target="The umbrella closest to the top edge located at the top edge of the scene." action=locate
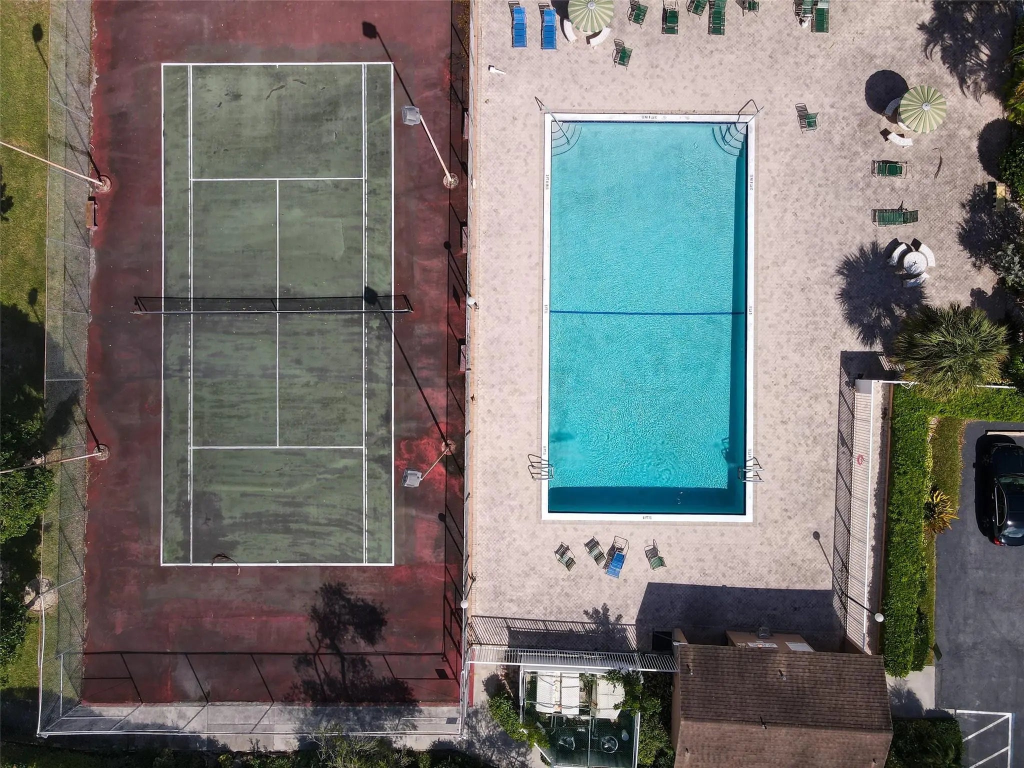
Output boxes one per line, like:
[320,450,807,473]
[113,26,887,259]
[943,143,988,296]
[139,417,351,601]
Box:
[567,0,614,35]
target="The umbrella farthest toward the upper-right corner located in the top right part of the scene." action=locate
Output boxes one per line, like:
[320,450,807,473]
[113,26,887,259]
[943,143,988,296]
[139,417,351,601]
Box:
[898,86,947,134]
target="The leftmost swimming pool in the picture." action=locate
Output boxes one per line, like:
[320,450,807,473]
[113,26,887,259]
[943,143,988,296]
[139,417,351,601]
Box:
[537,109,760,527]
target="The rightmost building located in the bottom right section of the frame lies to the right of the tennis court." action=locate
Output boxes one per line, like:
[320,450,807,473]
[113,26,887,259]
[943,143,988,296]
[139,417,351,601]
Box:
[668,627,892,768]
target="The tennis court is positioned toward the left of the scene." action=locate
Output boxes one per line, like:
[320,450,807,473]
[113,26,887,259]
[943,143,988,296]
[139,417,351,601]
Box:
[82,0,475,706]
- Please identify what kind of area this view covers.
sports ground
